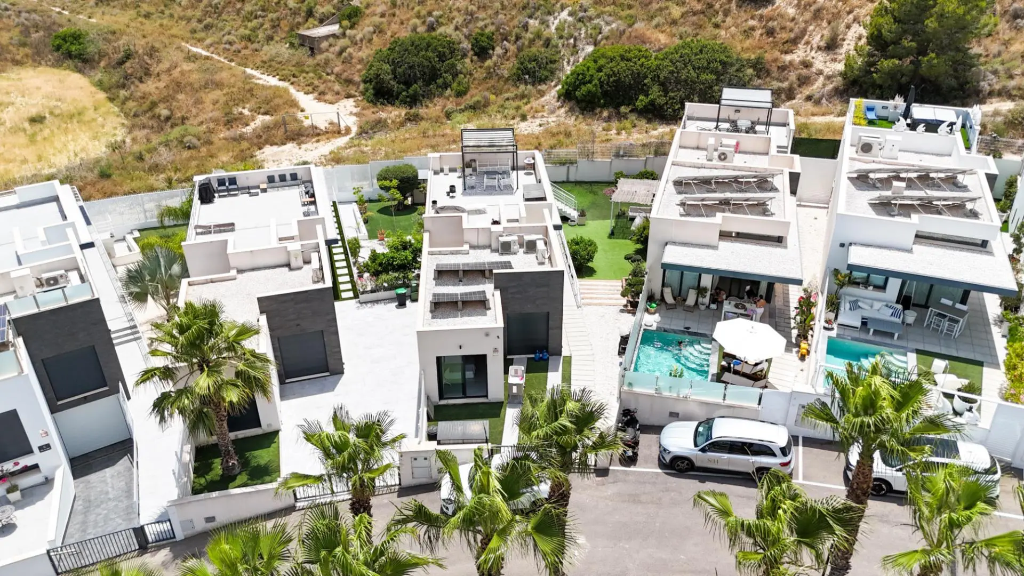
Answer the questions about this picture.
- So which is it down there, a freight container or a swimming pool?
swimming pool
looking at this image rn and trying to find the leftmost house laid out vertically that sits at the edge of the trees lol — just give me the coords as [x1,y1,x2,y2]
[0,174,134,492]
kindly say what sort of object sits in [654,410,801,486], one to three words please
car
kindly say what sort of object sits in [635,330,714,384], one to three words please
swimming pool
